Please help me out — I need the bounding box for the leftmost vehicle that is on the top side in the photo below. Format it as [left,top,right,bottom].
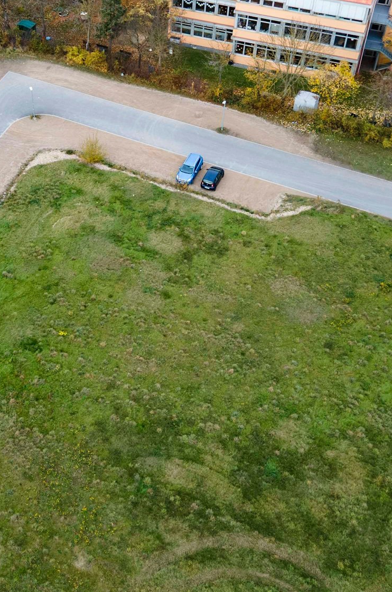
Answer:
[179,152,207,185]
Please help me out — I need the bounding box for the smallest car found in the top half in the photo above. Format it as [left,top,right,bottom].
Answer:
[202,164,226,189]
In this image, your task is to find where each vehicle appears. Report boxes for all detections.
[202,164,226,189]
[179,152,207,185]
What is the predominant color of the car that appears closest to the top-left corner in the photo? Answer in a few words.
blue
